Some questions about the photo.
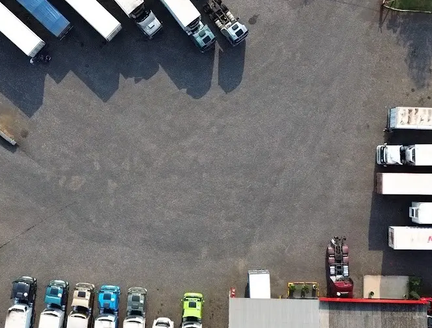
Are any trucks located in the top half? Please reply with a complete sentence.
Yes, there is a truck in the top half.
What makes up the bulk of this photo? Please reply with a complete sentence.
What you mostly see from above here is paved ground.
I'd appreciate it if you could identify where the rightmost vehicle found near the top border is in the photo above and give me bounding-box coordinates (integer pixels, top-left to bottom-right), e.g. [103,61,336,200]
[204,0,250,48]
